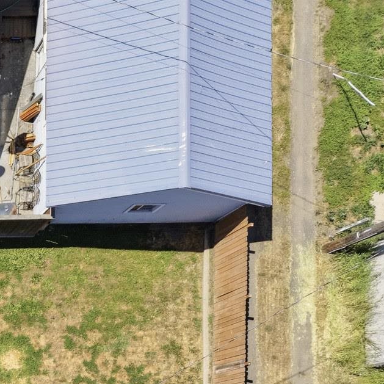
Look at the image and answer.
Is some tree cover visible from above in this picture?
No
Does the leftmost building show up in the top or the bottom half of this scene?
top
